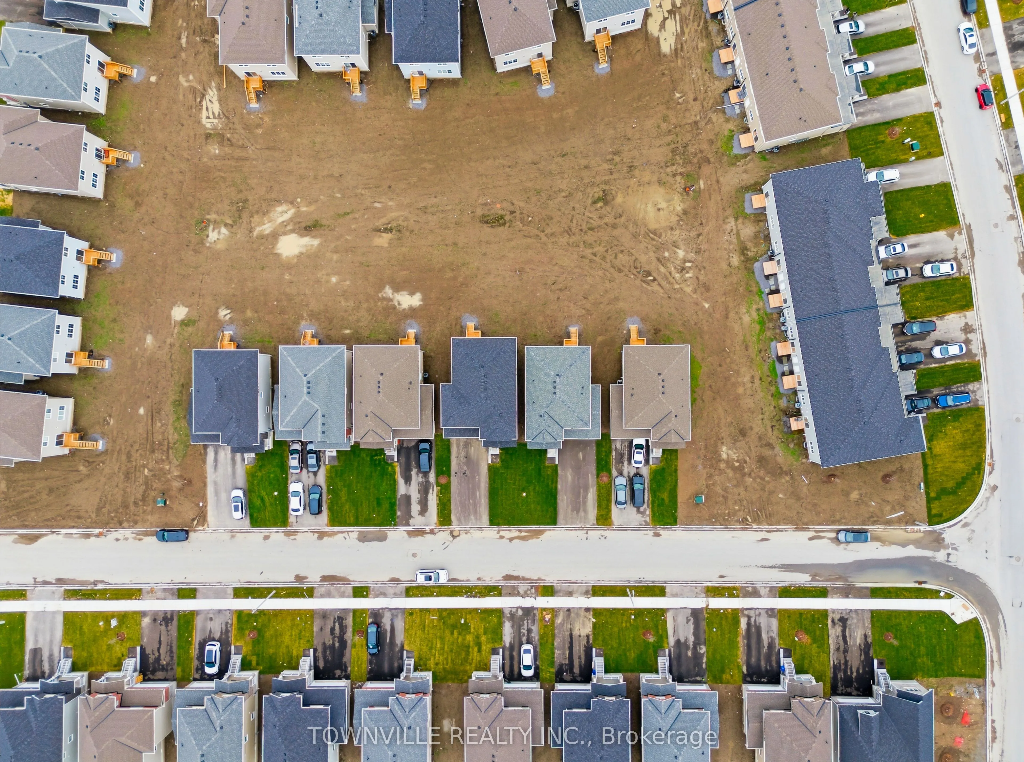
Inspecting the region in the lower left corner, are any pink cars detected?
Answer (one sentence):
No, looking in the lower left corner, there is no pink car.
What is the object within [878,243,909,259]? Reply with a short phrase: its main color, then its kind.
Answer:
white car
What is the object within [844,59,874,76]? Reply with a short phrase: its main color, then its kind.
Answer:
white car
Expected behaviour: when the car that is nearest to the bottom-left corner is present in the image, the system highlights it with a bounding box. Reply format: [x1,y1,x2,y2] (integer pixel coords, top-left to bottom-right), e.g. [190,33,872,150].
[203,641,222,675]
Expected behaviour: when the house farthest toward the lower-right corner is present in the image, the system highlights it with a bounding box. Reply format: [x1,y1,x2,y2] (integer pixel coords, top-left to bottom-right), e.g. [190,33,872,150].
[832,659,934,762]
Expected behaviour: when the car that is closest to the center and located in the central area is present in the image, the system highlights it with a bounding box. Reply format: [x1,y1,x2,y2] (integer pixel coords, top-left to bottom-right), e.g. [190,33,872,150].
[416,440,433,473]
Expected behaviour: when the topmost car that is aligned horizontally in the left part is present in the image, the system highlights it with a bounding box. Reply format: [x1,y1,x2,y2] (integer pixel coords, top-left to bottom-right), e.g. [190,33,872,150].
[156,528,190,544]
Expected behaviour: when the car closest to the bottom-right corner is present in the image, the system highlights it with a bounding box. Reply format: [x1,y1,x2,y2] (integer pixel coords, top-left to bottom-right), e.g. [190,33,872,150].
[836,529,871,545]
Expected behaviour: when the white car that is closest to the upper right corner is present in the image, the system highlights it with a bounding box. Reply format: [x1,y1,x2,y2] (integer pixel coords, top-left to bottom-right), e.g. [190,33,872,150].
[956,22,977,56]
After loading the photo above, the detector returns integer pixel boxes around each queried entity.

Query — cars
[229,488,248,520]
[287,440,304,473]
[520,643,535,677]
[836,529,871,545]
[630,474,647,508]
[844,59,874,76]
[867,167,901,183]
[897,351,925,366]
[203,641,222,675]
[156,528,190,544]
[906,396,935,413]
[930,342,966,359]
[882,266,913,282]
[307,484,324,516]
[416,440,433,473]
[902,320,938,337]
[304,442,322,473]
[613,475,629,508]
[956,22,977,56]
[289,481,305,515]
[921,261,957,277]
[878,243,909,259]
[415,568,449,585]
[974,83,994,111]
[961,0,980,16]
[631,439,646,469]
[834,16,866,34]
